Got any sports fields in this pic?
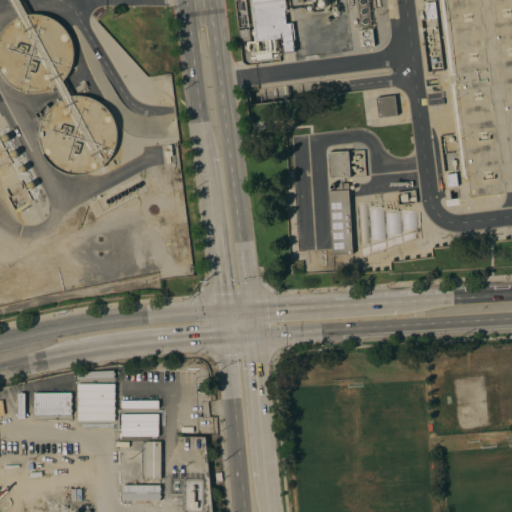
Yes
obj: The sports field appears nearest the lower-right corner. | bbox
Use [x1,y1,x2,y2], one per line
[445,448,512,512]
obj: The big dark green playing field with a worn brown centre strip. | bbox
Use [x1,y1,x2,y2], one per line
[292,384,432,512]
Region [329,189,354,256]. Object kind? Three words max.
building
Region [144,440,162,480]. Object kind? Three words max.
shed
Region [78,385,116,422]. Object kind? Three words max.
building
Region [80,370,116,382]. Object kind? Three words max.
shed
